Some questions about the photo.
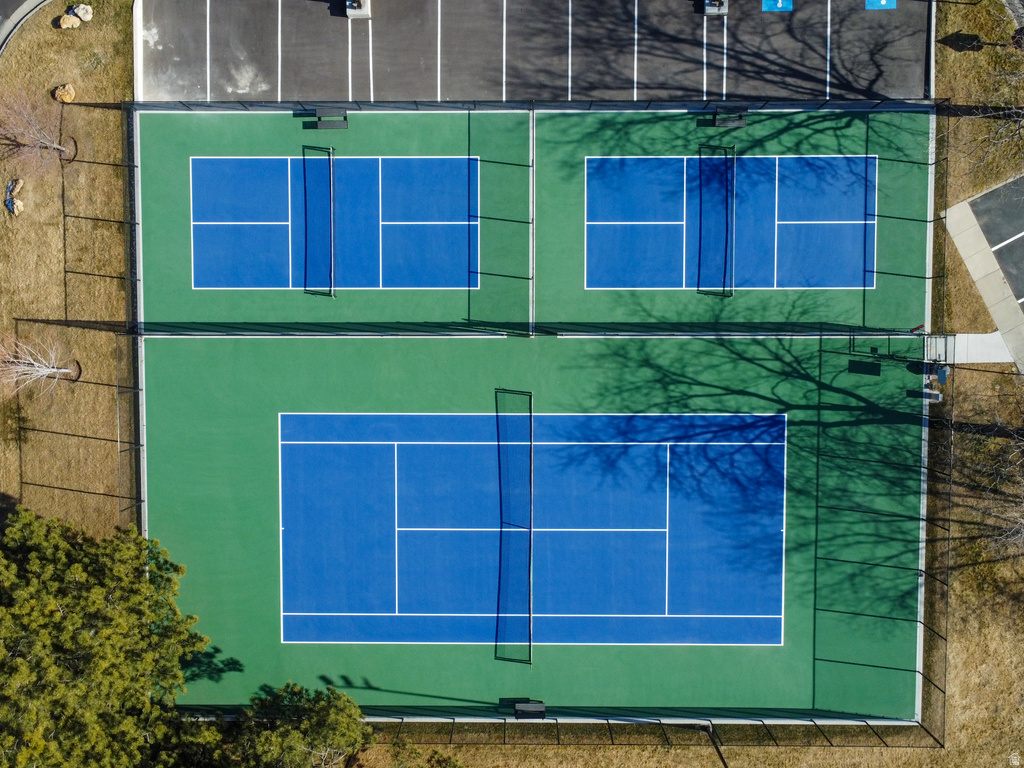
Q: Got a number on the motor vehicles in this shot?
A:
0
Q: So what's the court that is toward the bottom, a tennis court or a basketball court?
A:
tennis court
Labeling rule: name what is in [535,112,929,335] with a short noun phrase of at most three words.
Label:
sports court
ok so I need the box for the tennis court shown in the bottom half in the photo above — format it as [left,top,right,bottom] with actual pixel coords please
[144,336,924,717]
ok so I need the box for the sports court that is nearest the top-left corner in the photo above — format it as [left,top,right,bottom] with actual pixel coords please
[140,112,530,335]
